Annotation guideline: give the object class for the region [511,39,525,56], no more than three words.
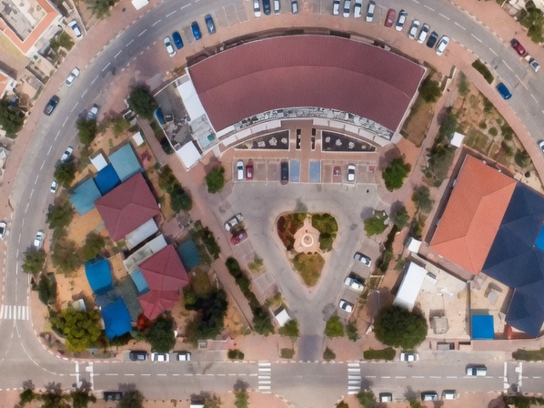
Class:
vehicle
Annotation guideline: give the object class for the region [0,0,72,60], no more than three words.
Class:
house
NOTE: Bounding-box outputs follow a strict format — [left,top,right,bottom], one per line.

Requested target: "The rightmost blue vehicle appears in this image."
[496,81,511,100]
